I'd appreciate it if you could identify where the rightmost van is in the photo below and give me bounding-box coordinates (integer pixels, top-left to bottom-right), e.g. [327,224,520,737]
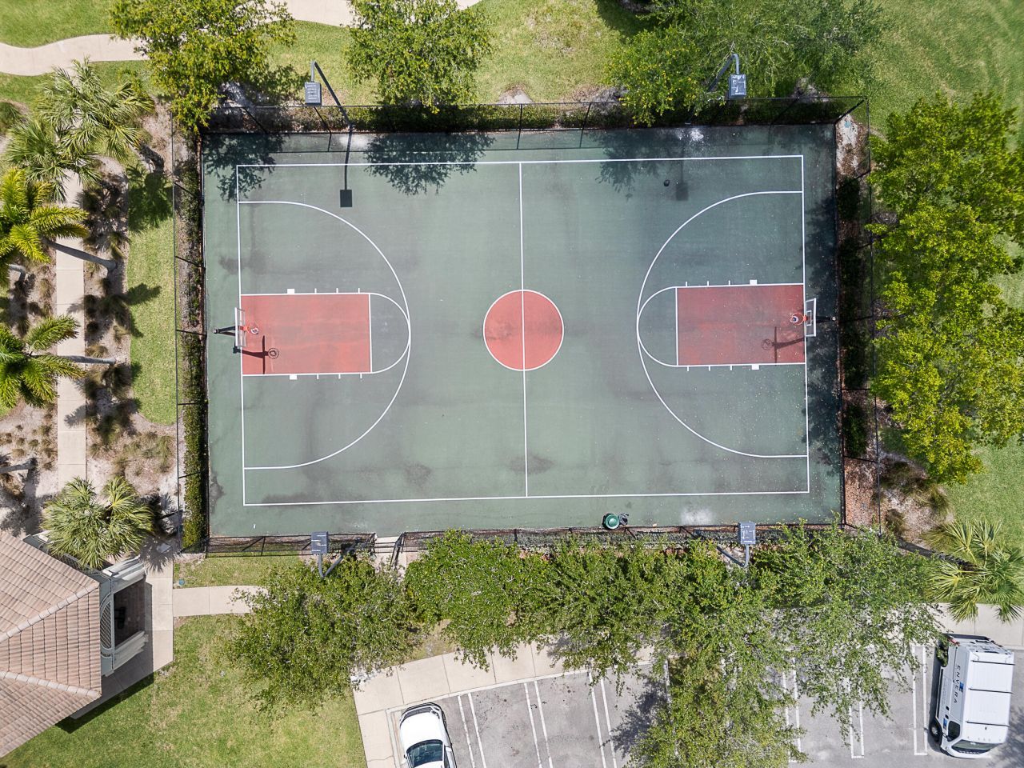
[930,632,1016,761]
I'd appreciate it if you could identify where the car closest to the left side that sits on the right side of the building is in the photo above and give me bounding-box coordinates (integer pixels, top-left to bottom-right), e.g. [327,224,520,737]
[400,702,454,768]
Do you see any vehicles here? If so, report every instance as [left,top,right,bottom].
[930,632,1016,761]
[400,702,454,768]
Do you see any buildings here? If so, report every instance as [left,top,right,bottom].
[0,525,145,758]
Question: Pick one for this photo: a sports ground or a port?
sports ground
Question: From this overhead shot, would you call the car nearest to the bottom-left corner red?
No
